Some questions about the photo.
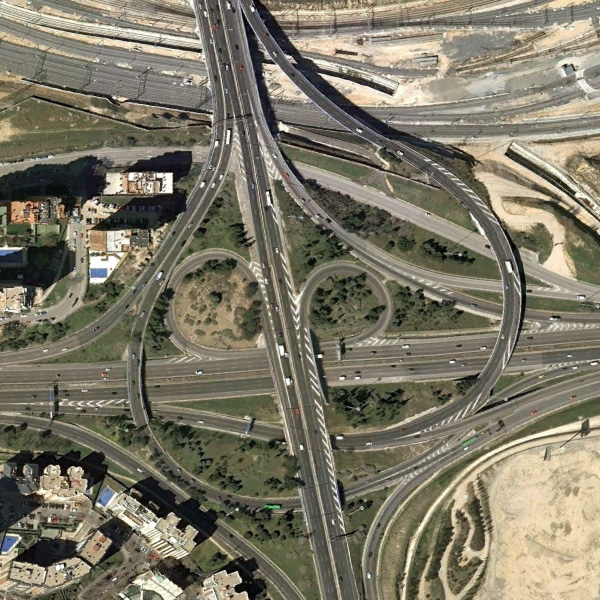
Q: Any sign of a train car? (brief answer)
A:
No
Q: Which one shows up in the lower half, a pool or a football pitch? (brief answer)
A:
pool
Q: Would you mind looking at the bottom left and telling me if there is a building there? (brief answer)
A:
Yes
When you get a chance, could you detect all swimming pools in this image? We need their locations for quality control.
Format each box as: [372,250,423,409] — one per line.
[95,484,119,509]
[0,533,23,555]
[0,246,27,266]
[90,254,128,283]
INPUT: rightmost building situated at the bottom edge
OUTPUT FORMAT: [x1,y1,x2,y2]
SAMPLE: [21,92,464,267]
[198,570,250,600]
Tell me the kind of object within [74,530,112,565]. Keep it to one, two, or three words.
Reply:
building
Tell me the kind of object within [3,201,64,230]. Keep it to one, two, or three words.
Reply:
building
